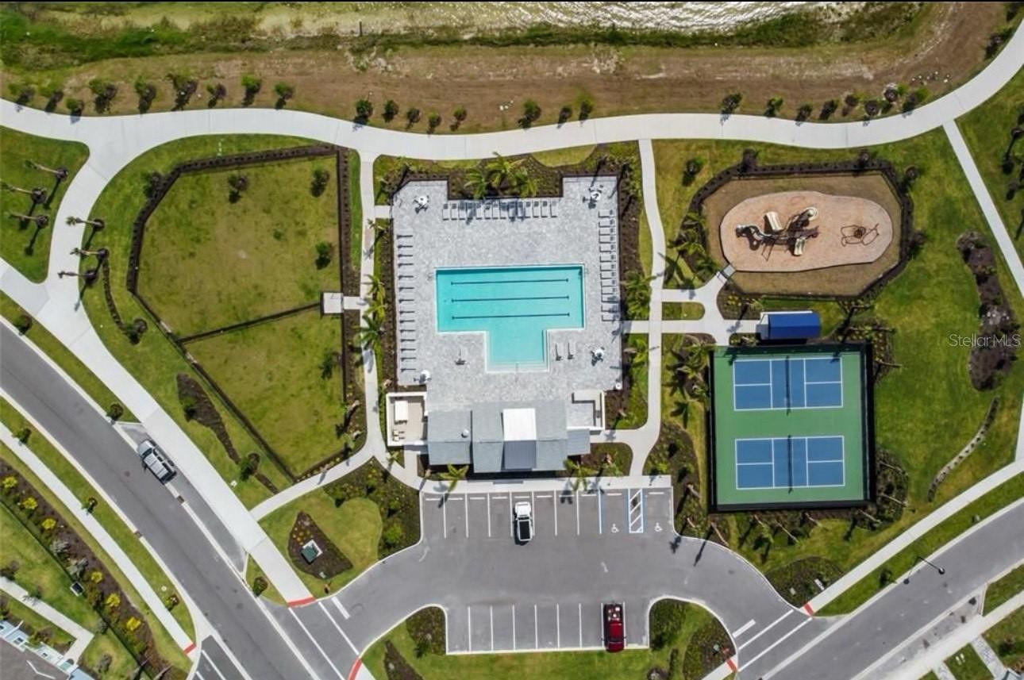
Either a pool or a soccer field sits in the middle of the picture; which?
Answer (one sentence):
It is a pool that can be seen in the middle of the picture.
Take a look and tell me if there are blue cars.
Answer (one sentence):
No, the scene contains no blue car.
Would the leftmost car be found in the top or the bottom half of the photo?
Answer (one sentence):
Seen from above, the leftmost car lies in the bottom half of the view.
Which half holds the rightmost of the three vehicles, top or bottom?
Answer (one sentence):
The rightmost of the three vehicles sits in the bottom half of the picture.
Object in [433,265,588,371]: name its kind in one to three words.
swimming pool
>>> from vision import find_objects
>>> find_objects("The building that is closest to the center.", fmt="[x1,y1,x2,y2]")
[387,390,605,473]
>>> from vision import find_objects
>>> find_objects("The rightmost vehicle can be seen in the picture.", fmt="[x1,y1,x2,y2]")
[604,602,624,652]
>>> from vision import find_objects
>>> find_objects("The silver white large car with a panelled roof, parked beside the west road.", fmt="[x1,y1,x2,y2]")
[137,441,176,485]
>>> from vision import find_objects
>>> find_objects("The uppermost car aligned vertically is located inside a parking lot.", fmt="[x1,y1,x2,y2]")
[514,503,532,545]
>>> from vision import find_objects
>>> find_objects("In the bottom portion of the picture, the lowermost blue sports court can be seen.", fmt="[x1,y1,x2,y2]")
[735,435,846,492]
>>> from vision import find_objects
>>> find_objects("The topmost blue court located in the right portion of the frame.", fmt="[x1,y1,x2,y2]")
[733,355,844,413]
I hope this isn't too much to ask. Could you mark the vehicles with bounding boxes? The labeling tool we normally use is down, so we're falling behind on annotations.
[604,602,624,652]
[137,441,176,485]
[514,503,532,545]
